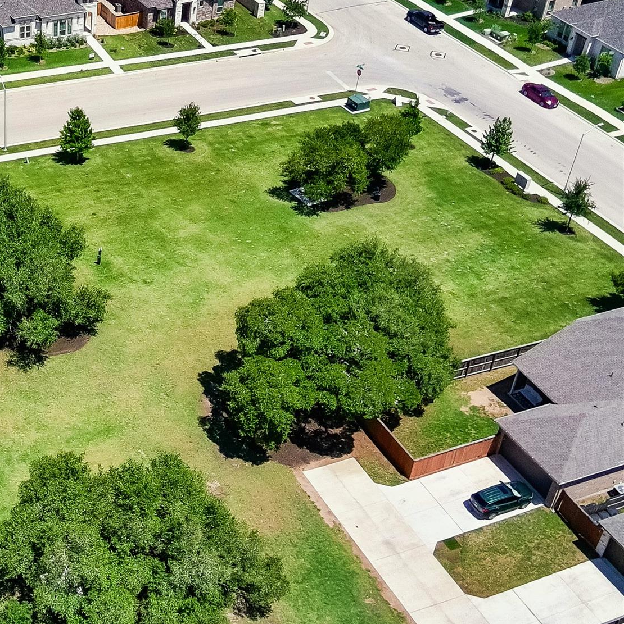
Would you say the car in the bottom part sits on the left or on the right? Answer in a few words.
right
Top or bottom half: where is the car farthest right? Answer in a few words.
top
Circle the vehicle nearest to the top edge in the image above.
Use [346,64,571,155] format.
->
[403,6,446,33]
